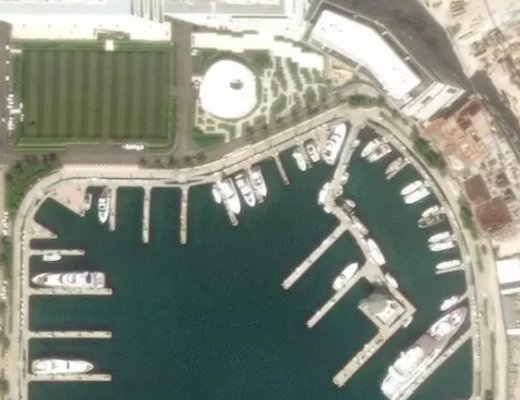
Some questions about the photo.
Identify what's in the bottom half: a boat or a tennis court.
boat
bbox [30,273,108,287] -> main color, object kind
white boat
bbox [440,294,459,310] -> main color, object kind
white boat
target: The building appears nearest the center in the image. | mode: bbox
[199,60,258,117]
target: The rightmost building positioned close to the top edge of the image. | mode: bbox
[303,2,434,101]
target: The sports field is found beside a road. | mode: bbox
[9,40,176,150]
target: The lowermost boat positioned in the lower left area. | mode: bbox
[30,359,94,374]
